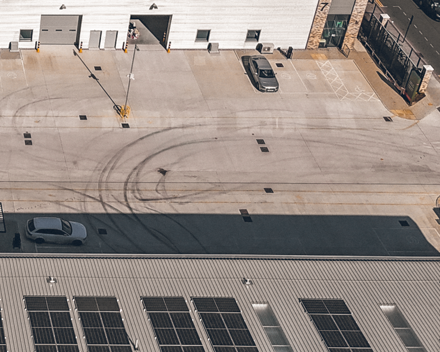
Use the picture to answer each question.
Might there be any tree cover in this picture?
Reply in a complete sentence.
No, tree cover can't be seen anywhere here.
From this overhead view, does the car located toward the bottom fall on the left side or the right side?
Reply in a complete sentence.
It is on the left.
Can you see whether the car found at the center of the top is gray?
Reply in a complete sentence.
Yes, the car found at the center of the top is indeed gray.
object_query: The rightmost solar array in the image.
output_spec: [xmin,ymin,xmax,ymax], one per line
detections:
[300,297,375,352]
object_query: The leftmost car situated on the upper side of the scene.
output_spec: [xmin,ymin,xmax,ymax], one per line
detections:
[247,59,278,94]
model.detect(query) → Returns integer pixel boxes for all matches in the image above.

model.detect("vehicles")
[25,219,89,249]
[417,0,440,21]
[247,59,278,94]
